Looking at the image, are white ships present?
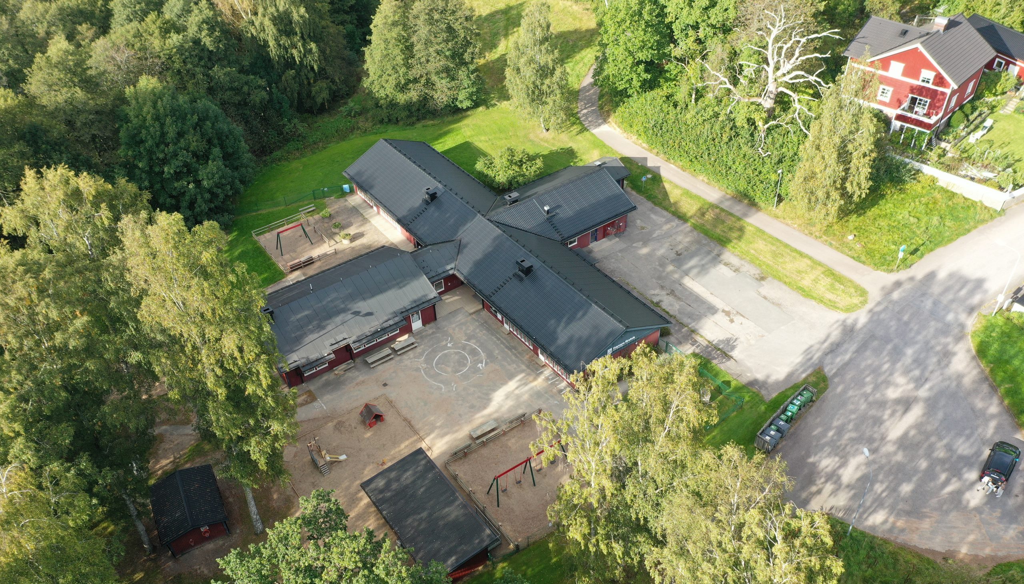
No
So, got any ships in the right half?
No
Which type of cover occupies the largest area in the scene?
trees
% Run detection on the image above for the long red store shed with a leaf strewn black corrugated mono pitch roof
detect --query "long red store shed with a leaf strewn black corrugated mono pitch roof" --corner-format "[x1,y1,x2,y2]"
[358,445,503,584]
